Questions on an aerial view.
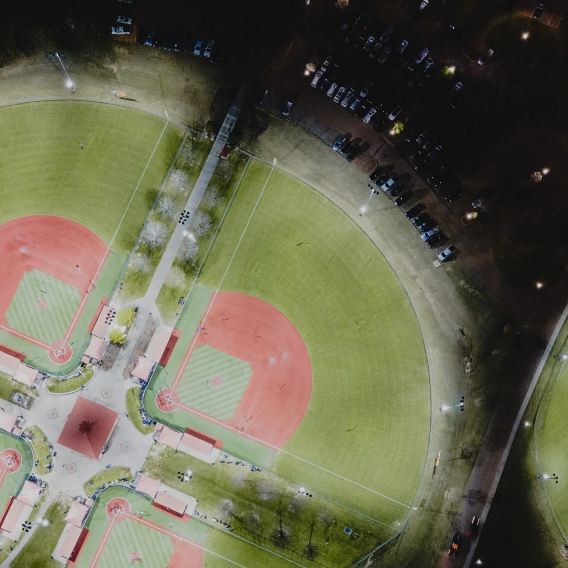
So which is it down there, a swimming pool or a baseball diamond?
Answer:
baseball diamond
